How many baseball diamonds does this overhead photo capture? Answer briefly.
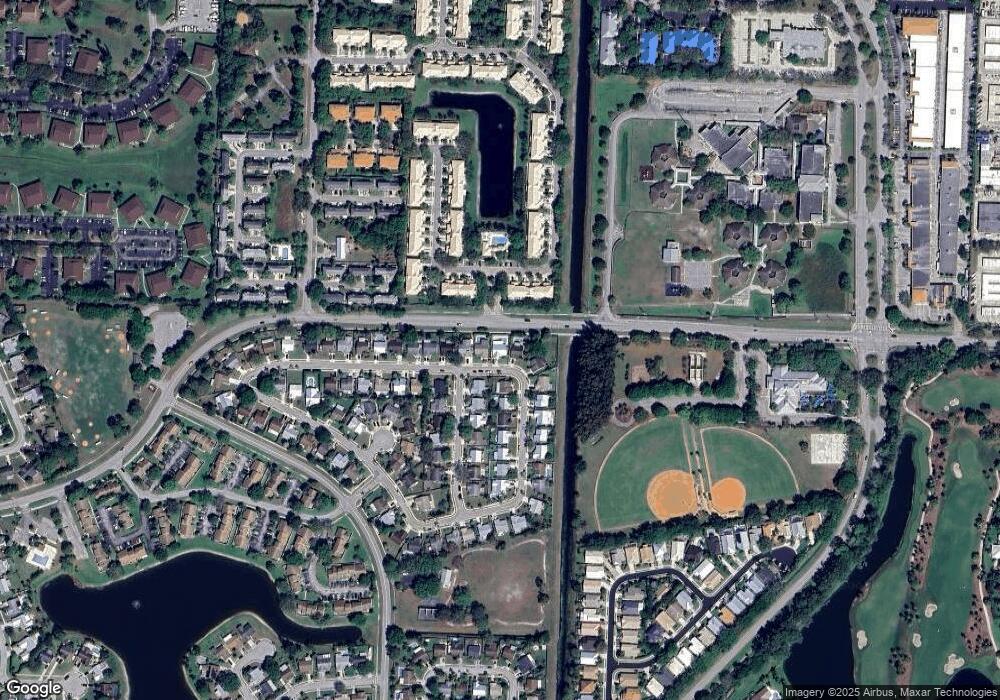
2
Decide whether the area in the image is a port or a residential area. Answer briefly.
residential area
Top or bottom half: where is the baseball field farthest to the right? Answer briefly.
bottom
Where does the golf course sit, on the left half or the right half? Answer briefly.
right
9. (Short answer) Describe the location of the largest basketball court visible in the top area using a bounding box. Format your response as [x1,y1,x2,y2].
[684,262,711,289]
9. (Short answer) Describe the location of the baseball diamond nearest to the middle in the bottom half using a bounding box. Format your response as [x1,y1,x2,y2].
[594,416,700,528]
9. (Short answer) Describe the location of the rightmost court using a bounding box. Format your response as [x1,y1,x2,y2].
[811,434,848,464]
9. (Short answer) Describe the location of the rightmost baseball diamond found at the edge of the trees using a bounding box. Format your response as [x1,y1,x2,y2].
[702,427,798,514]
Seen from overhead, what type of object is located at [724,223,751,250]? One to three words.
building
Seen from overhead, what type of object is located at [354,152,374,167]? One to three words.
house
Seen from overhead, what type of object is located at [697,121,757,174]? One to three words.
building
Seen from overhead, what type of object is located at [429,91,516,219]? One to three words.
pond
